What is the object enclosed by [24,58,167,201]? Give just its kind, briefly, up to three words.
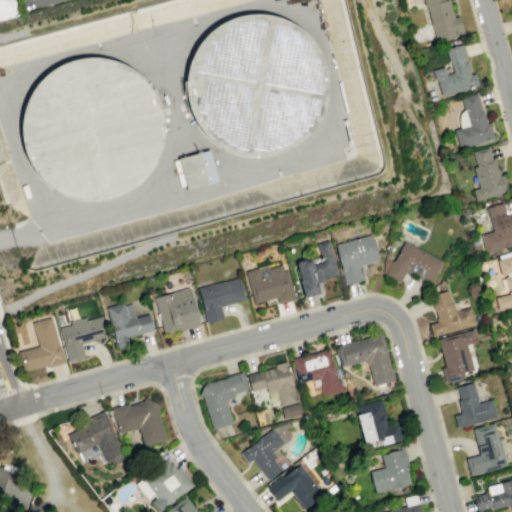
storage tank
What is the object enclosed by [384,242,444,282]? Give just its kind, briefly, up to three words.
house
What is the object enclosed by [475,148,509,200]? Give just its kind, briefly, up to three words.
house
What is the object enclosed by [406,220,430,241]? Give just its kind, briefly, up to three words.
swimming pool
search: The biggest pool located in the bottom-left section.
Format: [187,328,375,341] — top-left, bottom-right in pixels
[118,482,138,504]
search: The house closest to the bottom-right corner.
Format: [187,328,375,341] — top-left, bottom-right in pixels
[474,480,512,512]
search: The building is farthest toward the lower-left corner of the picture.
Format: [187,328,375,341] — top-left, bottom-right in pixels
[0,470,34,511]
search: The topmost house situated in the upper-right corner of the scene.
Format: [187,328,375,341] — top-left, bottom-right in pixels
[428,0,465,42]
